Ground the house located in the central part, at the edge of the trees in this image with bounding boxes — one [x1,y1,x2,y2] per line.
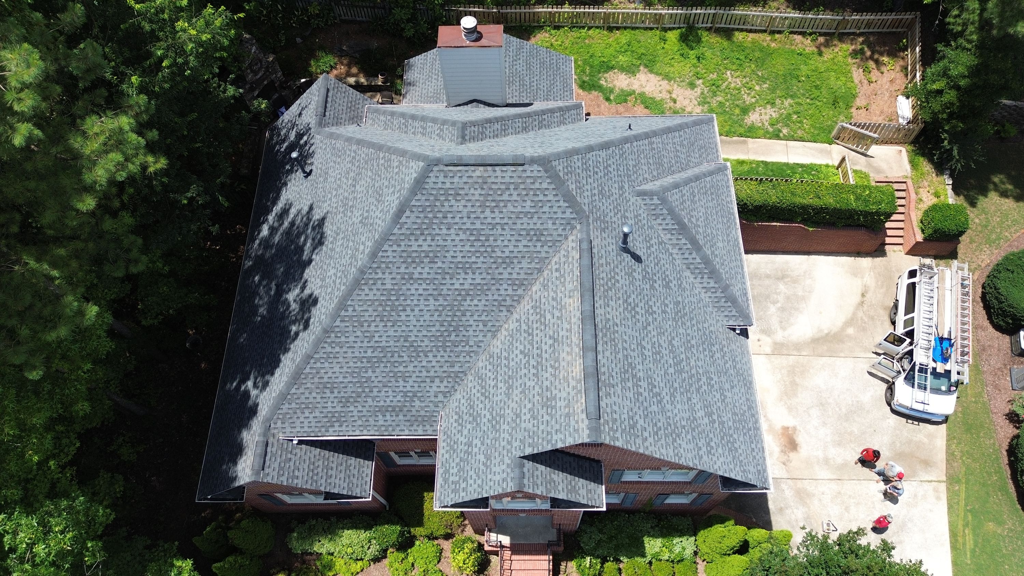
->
[192,18,777,576]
